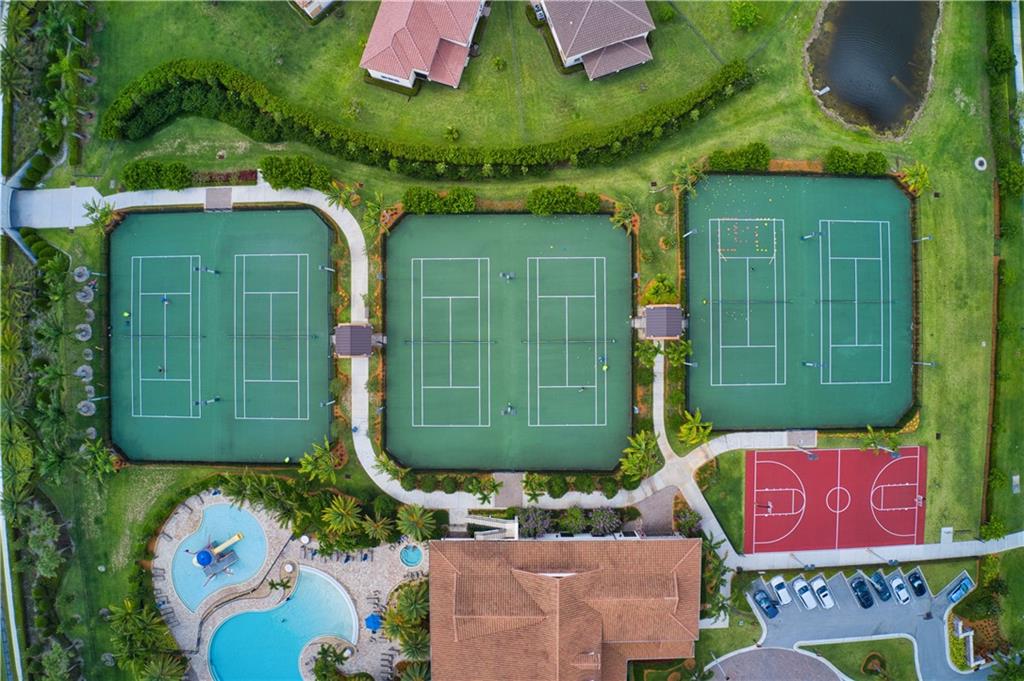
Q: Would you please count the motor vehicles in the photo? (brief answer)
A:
nine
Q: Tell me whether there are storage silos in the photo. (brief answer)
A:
No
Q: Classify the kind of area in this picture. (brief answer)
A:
sports ground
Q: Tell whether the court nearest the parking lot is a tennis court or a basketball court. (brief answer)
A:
basketball court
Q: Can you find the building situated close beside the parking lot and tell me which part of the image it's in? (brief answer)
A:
bottom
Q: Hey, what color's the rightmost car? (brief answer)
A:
blue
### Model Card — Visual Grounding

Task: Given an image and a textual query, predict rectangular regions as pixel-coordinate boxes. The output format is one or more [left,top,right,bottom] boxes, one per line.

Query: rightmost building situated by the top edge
[541,0,656,86]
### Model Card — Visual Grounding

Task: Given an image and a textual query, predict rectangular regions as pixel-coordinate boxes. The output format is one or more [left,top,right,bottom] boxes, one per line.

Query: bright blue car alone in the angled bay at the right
[946,577,972,603]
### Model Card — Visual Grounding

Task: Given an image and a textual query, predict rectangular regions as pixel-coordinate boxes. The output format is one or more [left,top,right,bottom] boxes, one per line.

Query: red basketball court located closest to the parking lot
[744,446,928,553]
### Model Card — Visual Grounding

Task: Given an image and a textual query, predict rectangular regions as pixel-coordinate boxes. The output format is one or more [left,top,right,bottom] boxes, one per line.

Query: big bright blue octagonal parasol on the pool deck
[366,612,384,630]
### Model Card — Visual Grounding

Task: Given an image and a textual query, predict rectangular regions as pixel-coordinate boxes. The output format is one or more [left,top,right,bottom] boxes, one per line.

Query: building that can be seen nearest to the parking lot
[429,529,702,681]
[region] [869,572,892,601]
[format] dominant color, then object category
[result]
blue car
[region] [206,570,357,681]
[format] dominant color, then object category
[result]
blue swimming pool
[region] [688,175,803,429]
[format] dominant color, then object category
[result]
green tennis court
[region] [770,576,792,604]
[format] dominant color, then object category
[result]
white car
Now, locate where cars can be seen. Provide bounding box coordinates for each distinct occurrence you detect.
[905,572,927,597]
[888,576,911,605]
[755,590,777,618]
[946,577,972,603]
[770,576,792,604]
[792,578,818,609]
[810,577,835,608]
[849,577,876,609]
[869,572,892,601]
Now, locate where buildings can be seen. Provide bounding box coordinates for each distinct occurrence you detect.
[360,0,481,93]
[298,0,335,17]
[335,323,376,359]
[541,0,656,86]
[429,529,702,681]
[642,304,682,341]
